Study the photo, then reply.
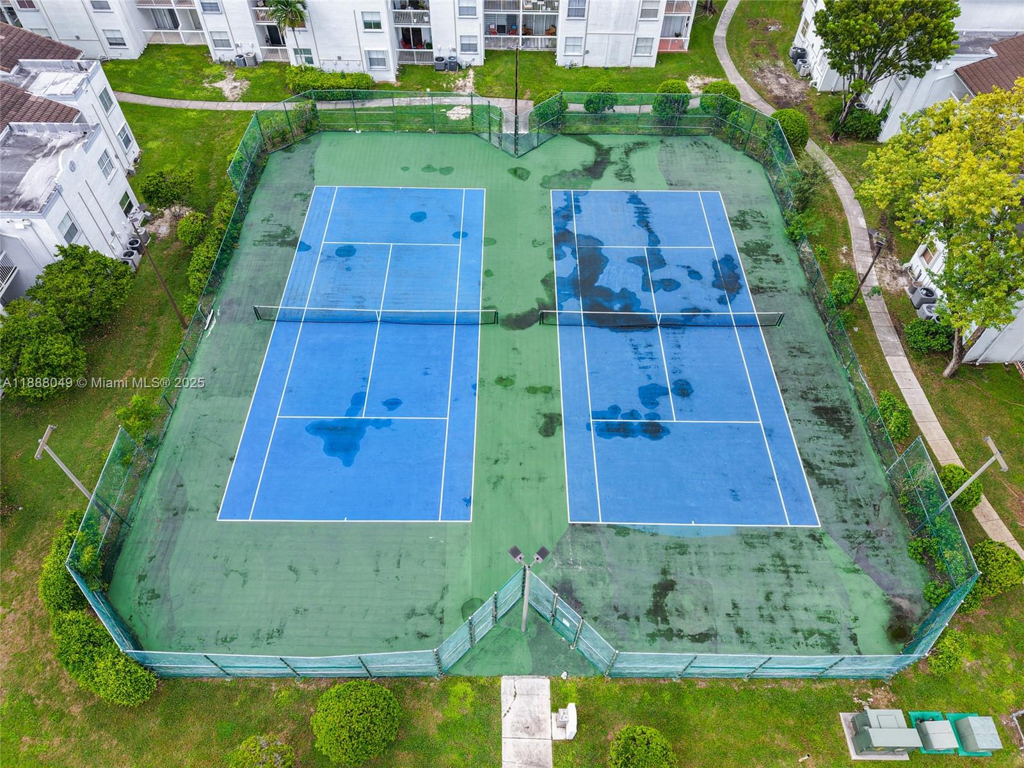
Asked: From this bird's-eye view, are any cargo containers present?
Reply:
No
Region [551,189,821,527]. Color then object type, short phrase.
blue tennis court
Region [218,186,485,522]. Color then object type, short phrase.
blue tennis court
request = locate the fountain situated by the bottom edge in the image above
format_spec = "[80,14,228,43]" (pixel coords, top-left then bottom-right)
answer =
[552,703,575,742]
